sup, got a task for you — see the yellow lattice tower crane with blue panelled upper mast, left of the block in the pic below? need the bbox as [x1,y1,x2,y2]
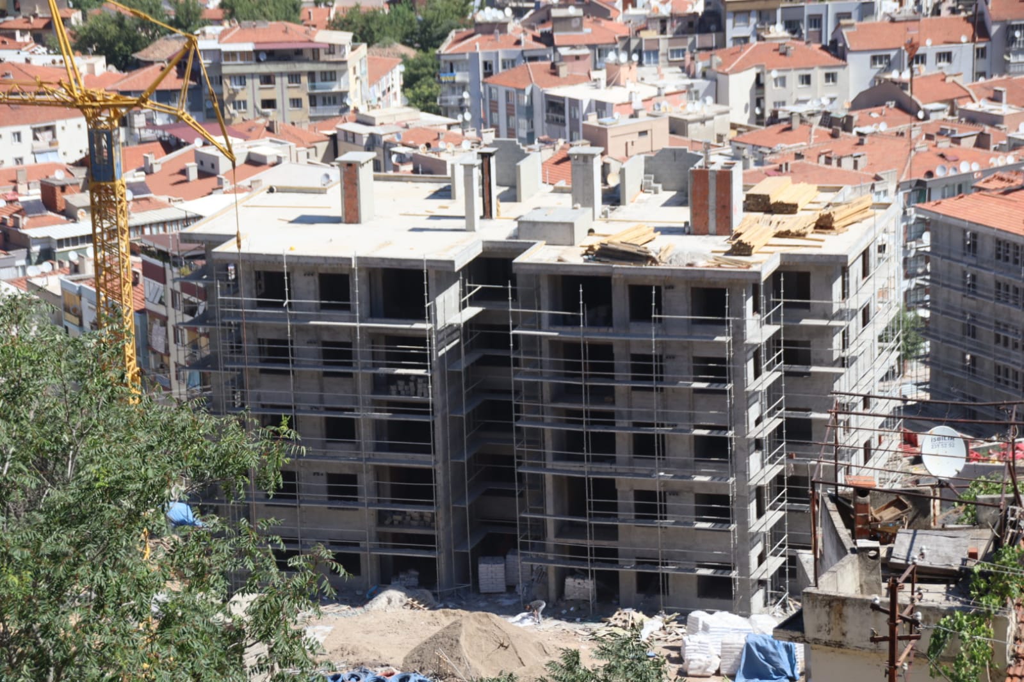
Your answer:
[0,0,255,626]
